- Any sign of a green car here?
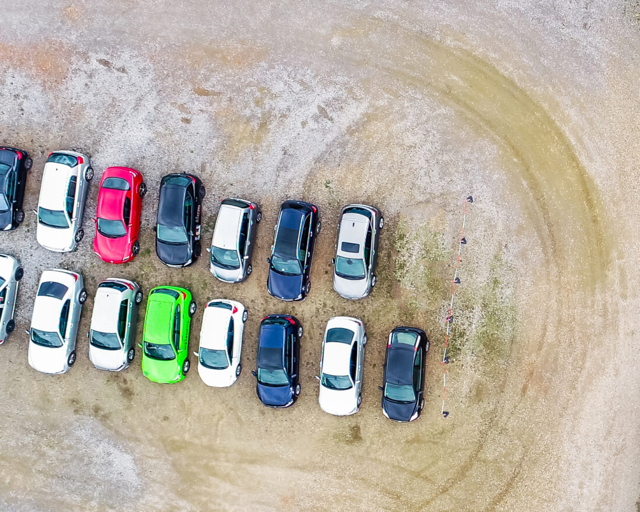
Yes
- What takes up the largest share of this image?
paved ground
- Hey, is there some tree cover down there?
No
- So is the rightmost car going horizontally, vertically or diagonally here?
vertically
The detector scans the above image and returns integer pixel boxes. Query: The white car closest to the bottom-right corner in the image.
[311,316,368,418]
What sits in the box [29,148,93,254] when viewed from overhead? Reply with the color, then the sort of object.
white car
